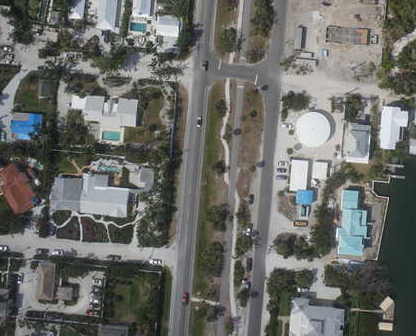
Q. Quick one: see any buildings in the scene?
Yes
